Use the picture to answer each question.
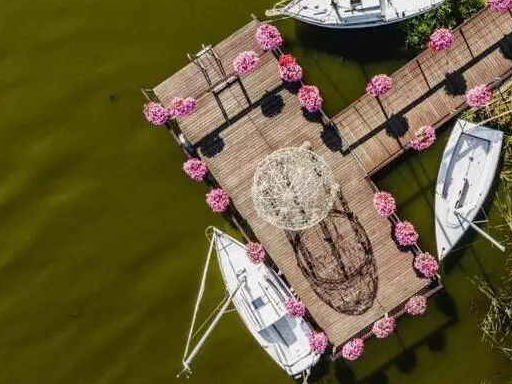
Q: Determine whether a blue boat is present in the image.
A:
No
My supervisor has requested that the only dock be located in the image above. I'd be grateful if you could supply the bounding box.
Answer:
[137,4,512,370]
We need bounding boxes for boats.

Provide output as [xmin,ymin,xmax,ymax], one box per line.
[255,0,446,29]
[171,226,341,381]
[433,118,503,261]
